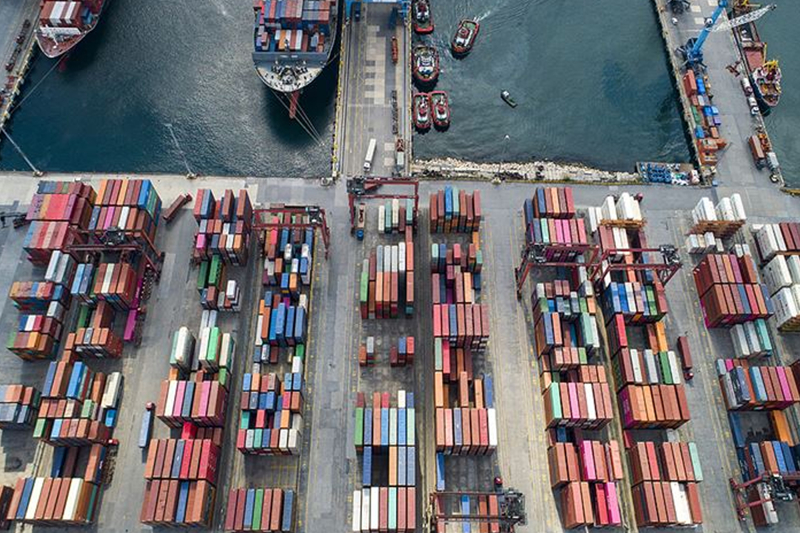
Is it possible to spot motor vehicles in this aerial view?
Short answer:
Yes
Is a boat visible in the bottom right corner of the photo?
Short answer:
No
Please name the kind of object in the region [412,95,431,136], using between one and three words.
boat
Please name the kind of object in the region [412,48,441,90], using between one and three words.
boat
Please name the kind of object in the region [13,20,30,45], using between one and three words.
vehicle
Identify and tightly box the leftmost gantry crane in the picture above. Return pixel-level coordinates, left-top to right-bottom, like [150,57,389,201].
[61,227,166,280]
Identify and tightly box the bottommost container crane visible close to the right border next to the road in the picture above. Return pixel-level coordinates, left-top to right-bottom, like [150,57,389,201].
[731,472,800,513]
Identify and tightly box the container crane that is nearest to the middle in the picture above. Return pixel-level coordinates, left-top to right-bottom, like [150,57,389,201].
[346,177,420,232]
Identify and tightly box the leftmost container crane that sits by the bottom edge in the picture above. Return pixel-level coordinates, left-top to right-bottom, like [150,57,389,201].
[427,488,523,530]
